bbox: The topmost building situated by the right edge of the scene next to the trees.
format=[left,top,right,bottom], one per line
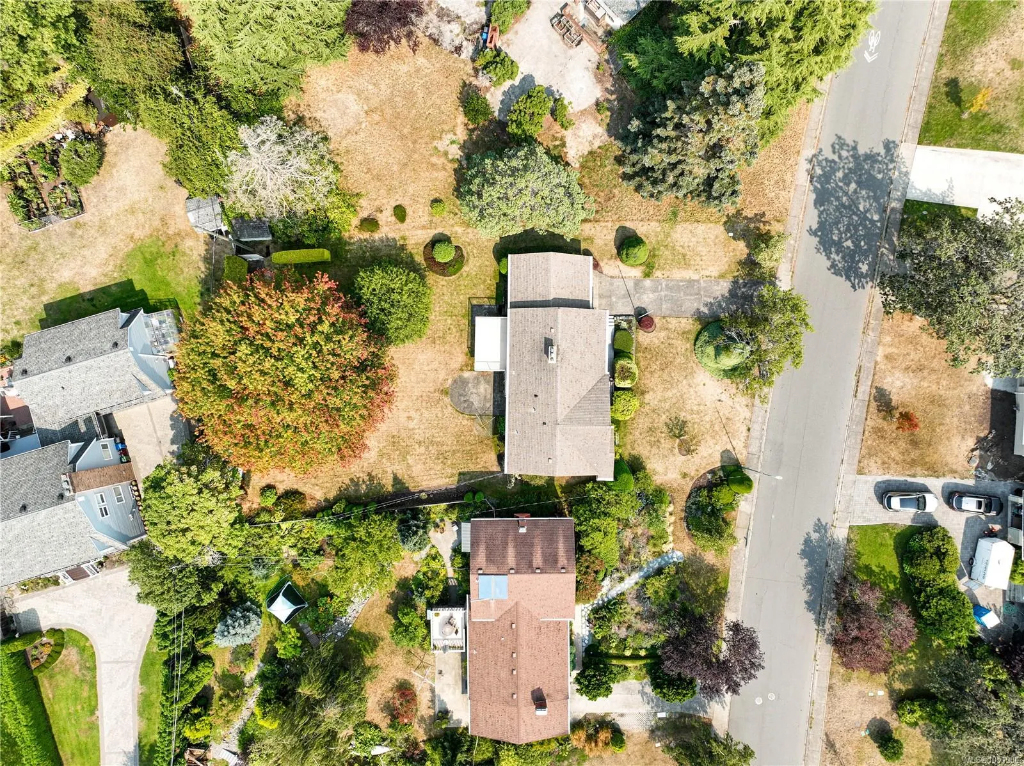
[987,366,1023,391]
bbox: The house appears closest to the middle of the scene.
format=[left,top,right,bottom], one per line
[503,250,617,478]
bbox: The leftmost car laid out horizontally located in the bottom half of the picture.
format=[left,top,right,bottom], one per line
[880,489,936,516]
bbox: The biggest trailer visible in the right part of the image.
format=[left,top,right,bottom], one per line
[962,529,1015,591]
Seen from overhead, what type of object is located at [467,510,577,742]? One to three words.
house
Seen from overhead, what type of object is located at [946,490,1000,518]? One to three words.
car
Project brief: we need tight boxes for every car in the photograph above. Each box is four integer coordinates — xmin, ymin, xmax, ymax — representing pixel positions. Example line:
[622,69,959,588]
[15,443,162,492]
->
[880,489,936,516]
[946,490,1000,518]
